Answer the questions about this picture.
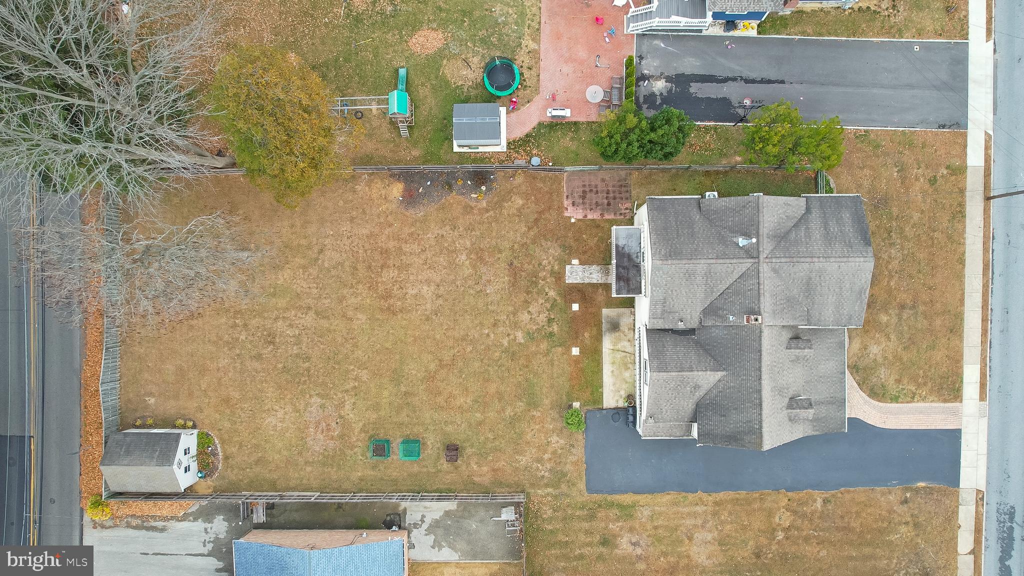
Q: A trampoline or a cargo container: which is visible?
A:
trampoline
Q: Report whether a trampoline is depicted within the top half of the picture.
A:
Yes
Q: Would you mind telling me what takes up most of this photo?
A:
grass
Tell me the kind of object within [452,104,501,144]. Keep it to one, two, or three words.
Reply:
shed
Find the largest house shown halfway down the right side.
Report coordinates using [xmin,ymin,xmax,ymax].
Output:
[633,194,892,450]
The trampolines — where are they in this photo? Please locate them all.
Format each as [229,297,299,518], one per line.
[484,54,520,98]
